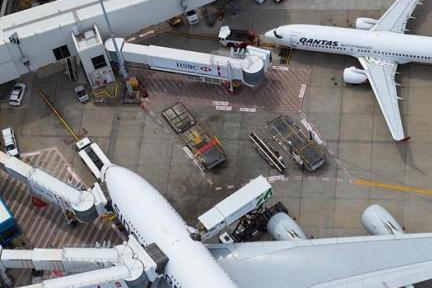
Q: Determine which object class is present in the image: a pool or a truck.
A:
truck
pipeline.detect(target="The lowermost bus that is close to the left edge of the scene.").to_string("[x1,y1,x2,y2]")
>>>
[0,203,22,248]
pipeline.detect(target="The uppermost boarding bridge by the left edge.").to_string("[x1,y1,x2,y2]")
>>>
[0,145,110,231]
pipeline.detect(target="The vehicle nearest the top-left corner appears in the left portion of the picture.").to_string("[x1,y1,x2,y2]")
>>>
[8,83,25,105]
